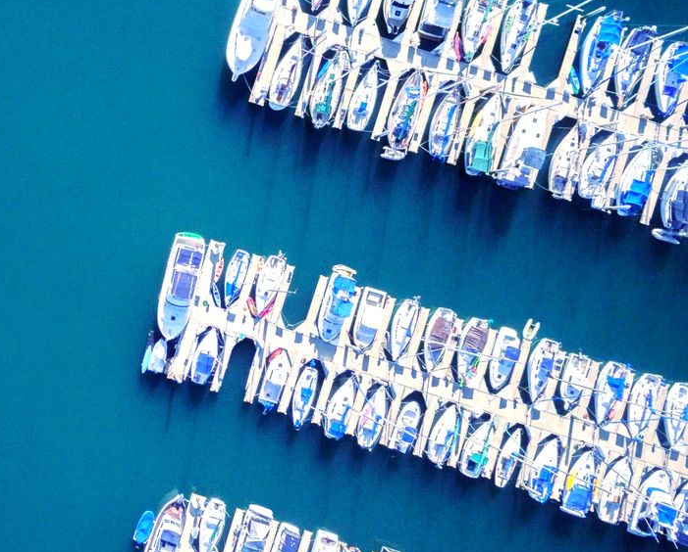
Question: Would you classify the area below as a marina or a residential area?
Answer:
marina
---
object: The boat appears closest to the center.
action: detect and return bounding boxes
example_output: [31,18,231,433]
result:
[333,264,359,279]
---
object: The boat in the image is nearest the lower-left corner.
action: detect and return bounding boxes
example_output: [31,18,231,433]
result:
[131,512,154,547]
